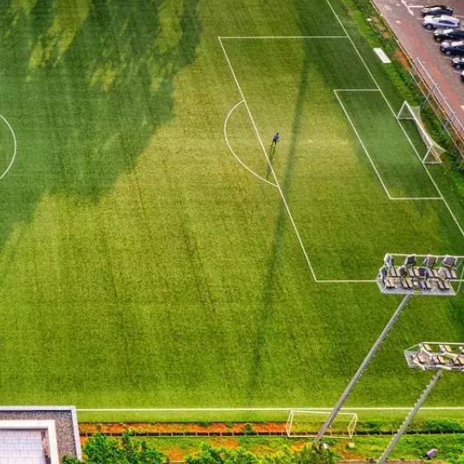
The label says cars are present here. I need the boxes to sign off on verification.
[449,55,464,72]
[439,40,464,56]
[420,1,460,16]
[435,26,464,42]
[423,14,464,28]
